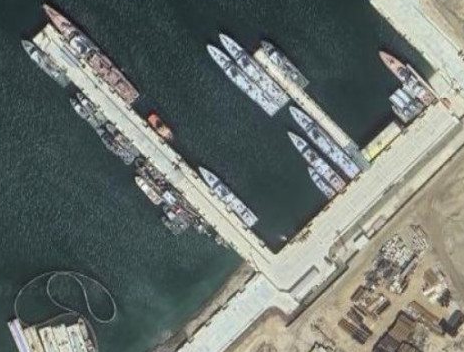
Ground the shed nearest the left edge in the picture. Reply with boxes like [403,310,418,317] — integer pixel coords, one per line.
[291,270,322,302]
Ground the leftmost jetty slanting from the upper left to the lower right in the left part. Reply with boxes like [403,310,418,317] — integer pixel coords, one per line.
[32,24,274,284]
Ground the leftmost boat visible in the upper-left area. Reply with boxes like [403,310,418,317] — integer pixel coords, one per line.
[22,39,71,88]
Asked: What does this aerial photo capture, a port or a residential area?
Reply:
port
